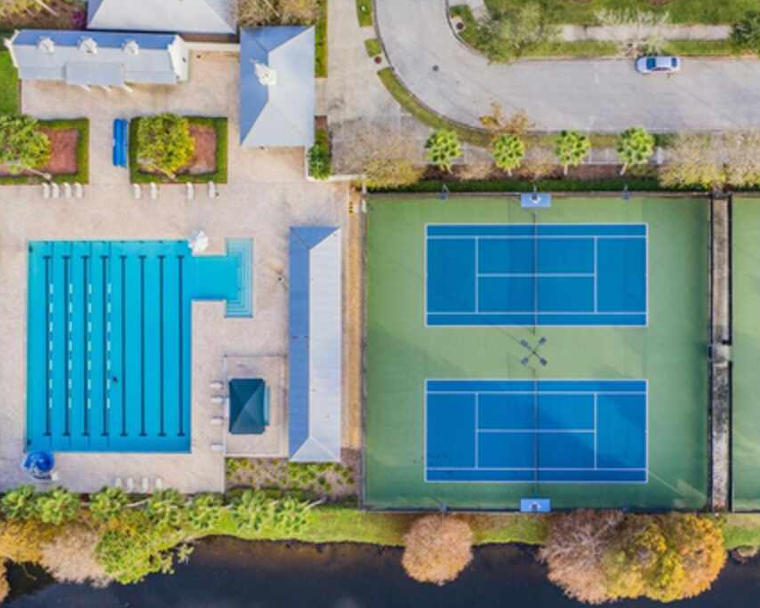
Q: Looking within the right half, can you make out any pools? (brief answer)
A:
No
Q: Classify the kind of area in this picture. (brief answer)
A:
sports ground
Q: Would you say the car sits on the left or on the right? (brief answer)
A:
right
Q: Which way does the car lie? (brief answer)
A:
horizontally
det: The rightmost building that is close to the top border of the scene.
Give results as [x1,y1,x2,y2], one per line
[240,25,316,150]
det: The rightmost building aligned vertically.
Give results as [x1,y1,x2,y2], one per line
[289,227,343,462]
